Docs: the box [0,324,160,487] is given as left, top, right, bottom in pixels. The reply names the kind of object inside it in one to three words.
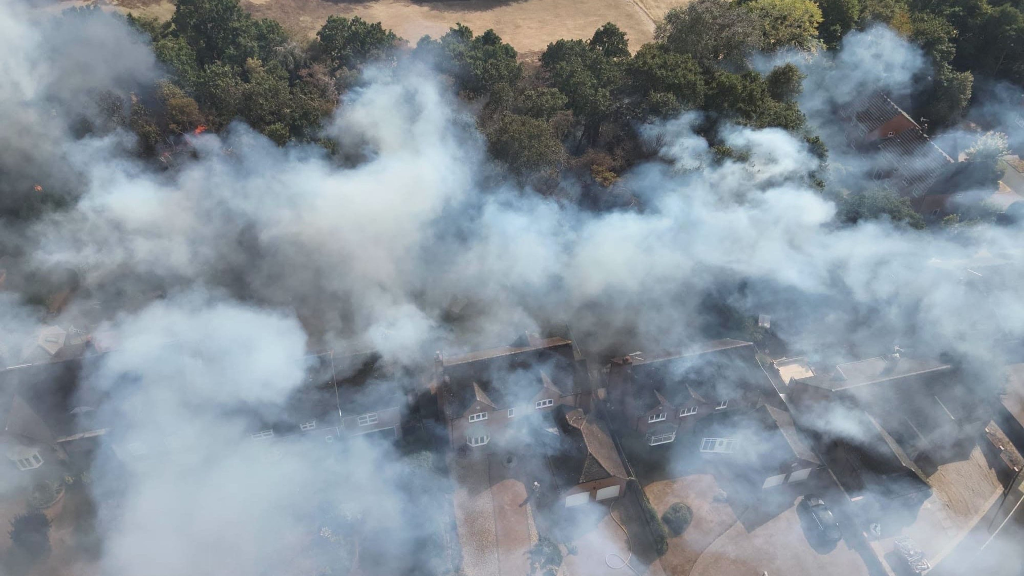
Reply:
house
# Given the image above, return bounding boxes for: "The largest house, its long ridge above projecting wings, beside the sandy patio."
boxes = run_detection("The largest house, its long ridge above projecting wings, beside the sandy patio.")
[783,328,985,526]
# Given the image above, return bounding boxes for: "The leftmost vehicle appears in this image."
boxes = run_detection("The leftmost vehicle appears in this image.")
[800,501,844,550]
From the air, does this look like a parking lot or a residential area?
residential area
